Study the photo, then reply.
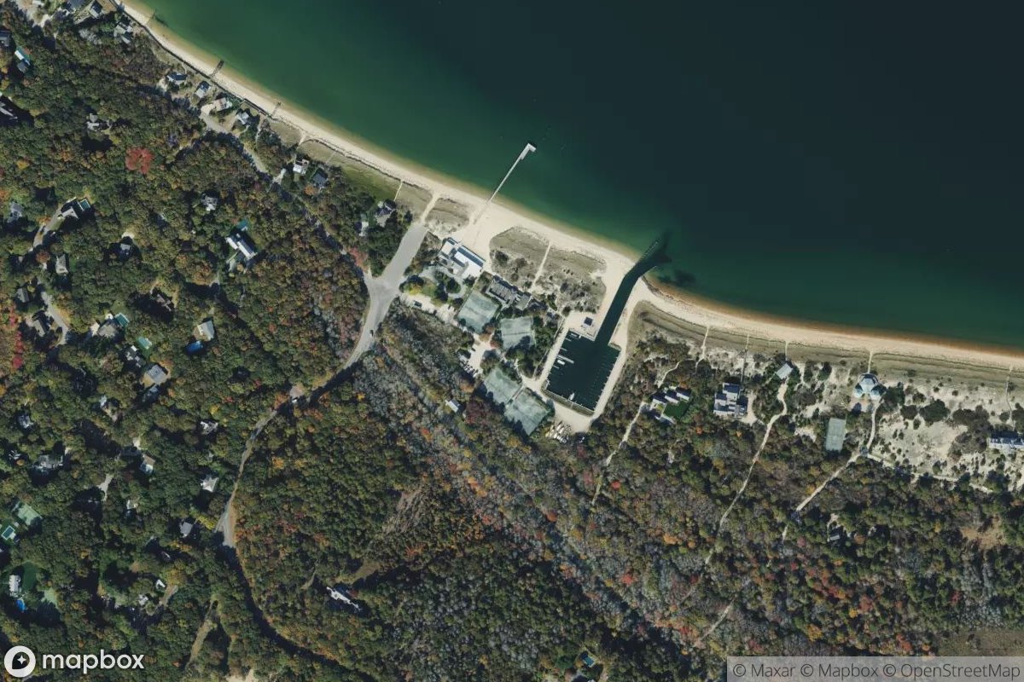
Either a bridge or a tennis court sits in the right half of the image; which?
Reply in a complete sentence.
Visible in the right half of the image is a tennis court.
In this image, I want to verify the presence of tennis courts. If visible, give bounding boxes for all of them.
[500,317,534,349]
[480,367,521,408]
[40,588,61,610]
[505,391,548,434]
[826,418,846,453]
[457,292,498,332]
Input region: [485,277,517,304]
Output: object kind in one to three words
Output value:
building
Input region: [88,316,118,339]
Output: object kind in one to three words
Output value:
house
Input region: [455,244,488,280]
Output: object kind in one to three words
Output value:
building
